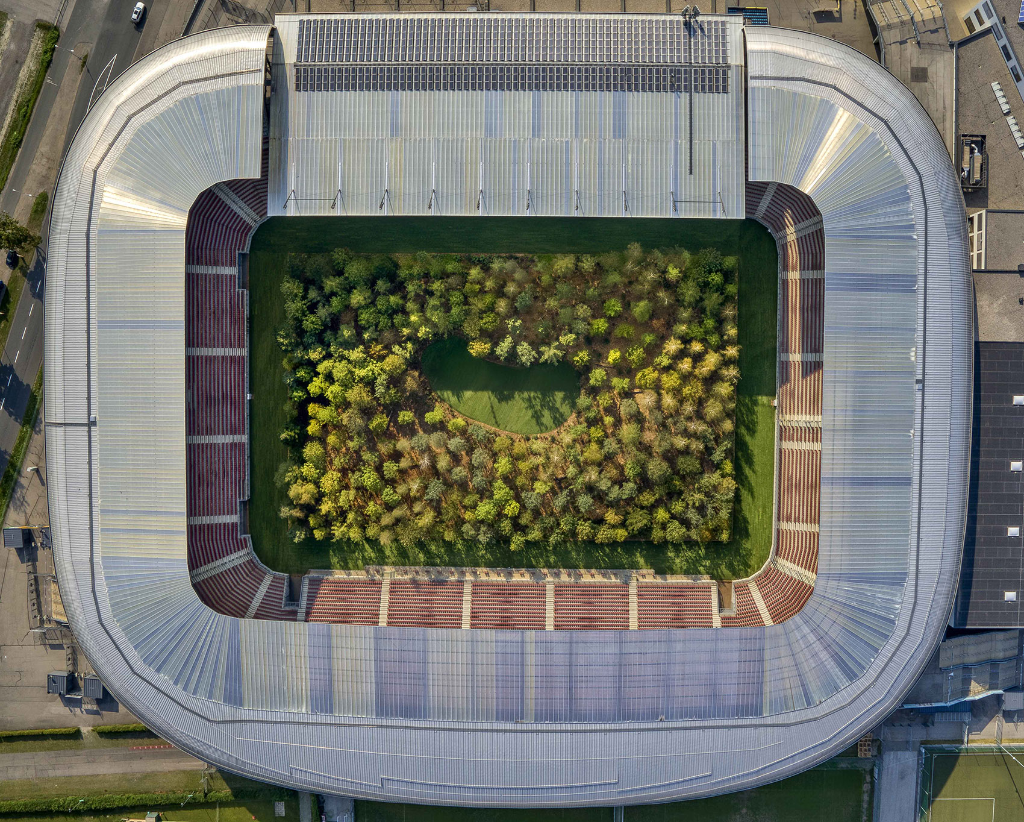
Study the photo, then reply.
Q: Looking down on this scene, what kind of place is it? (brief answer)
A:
sports ground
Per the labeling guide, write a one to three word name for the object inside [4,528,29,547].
shed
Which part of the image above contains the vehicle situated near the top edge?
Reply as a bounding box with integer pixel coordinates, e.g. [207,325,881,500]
[131,2,146,25]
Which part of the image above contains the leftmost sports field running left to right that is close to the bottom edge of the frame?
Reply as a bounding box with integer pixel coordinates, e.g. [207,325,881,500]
[356,746,857,822]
